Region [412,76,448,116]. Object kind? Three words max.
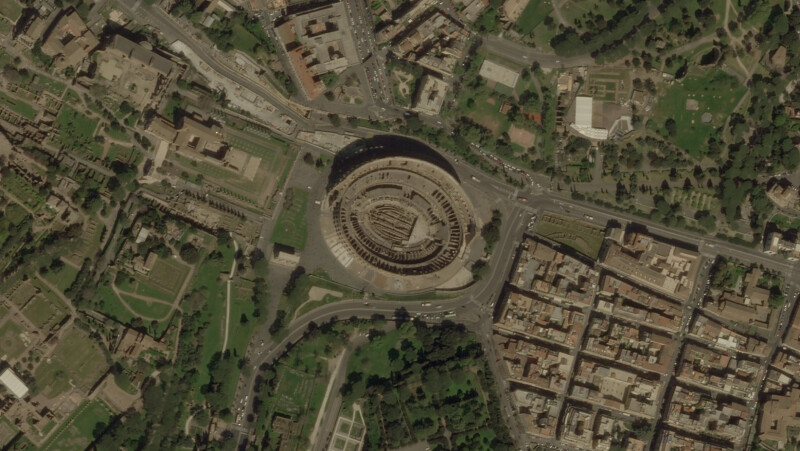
building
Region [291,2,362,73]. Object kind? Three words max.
building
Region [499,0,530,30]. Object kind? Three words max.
house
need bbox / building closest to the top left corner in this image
[16,16,46,50]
